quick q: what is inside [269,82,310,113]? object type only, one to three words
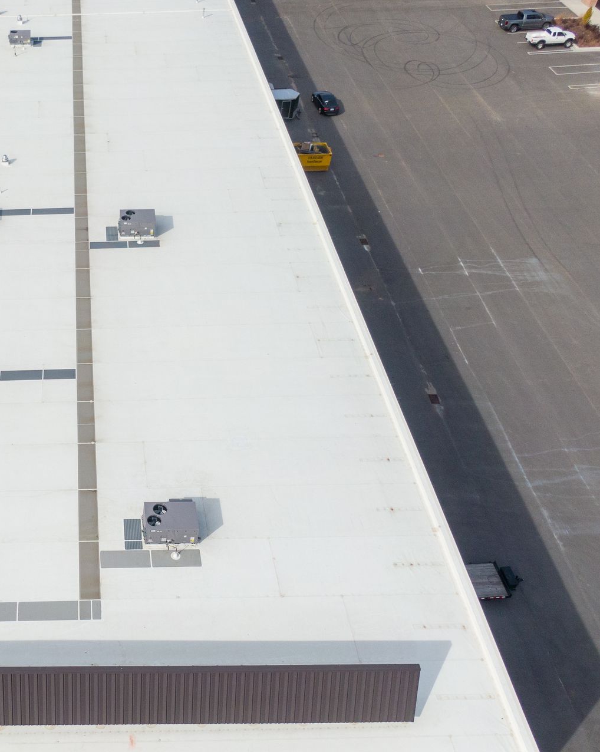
trailer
